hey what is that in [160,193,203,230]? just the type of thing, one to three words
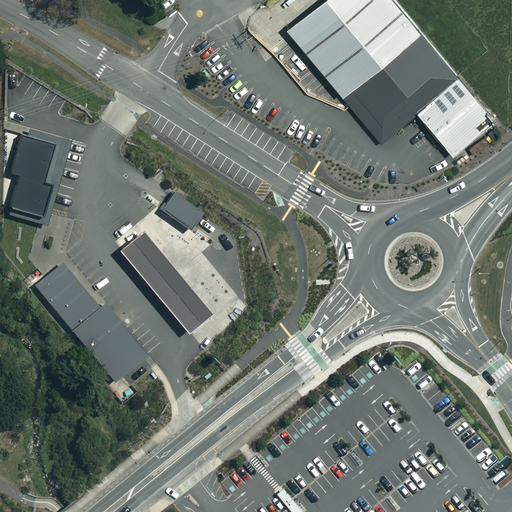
building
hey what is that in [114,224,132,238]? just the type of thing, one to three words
vehicle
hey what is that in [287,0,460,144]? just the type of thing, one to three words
warehouse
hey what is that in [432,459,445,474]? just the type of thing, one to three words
vehicle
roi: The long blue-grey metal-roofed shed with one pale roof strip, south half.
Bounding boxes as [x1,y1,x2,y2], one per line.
[74,304,149,382]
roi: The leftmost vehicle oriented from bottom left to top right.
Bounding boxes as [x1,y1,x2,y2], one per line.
[94,276,111,291]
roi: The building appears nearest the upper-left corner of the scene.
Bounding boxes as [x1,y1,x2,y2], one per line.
[10,130,71,226]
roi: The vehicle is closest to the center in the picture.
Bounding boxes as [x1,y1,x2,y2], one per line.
[218,234,232,250]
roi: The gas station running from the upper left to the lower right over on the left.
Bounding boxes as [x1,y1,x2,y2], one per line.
[120,232,213,334]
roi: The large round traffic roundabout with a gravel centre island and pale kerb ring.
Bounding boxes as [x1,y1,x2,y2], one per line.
[356,204,472,320]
